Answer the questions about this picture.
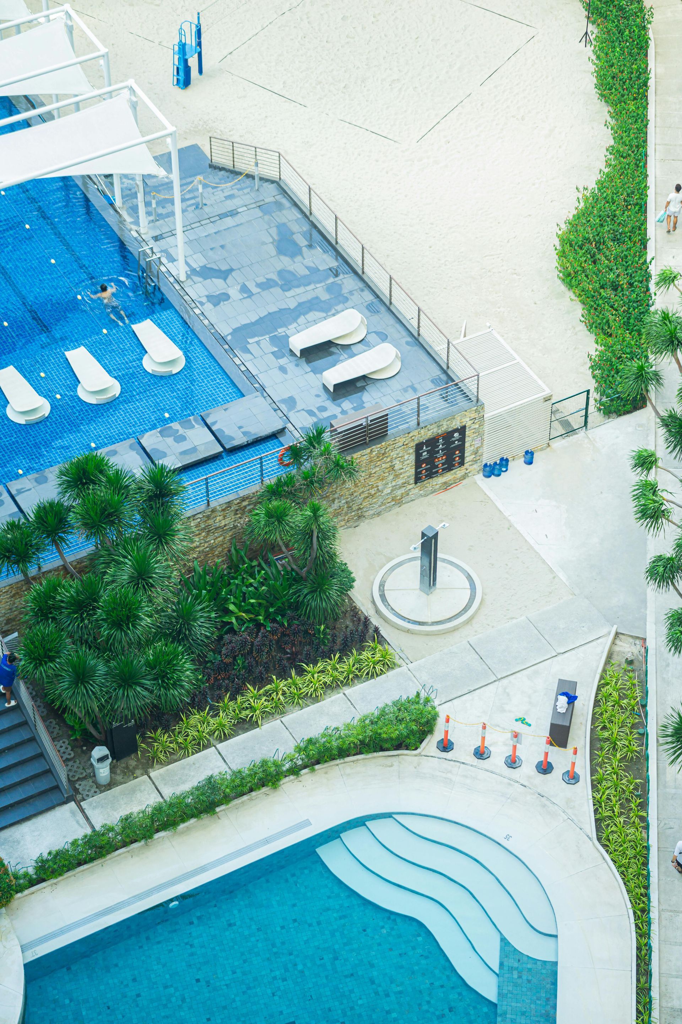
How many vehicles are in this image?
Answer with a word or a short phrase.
none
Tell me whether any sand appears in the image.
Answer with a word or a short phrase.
Yes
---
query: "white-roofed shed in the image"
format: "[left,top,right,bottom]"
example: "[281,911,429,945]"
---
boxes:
[436,329,557,475]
